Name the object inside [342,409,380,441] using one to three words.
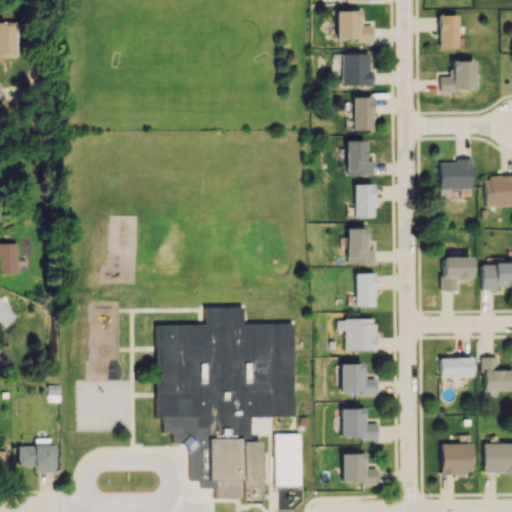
house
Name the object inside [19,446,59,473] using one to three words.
house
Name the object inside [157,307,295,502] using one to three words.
building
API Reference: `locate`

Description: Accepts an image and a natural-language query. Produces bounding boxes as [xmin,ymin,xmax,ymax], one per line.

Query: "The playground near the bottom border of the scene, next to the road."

[279,488,304,510]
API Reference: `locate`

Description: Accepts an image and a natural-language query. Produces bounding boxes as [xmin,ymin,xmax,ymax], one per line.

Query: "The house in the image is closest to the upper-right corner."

[440,15,462,49]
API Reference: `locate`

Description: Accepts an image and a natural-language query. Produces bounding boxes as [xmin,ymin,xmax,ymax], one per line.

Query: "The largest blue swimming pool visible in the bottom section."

[442,388,456,403]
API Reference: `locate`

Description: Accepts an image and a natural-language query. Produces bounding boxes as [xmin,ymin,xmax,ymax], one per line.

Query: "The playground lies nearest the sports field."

[101,216,138,284]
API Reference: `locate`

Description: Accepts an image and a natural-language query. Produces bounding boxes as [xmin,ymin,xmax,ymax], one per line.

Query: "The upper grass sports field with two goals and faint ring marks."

[80,0,300,127]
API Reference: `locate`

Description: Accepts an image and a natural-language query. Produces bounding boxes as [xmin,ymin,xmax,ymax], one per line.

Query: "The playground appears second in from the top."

[86,301,121,380]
